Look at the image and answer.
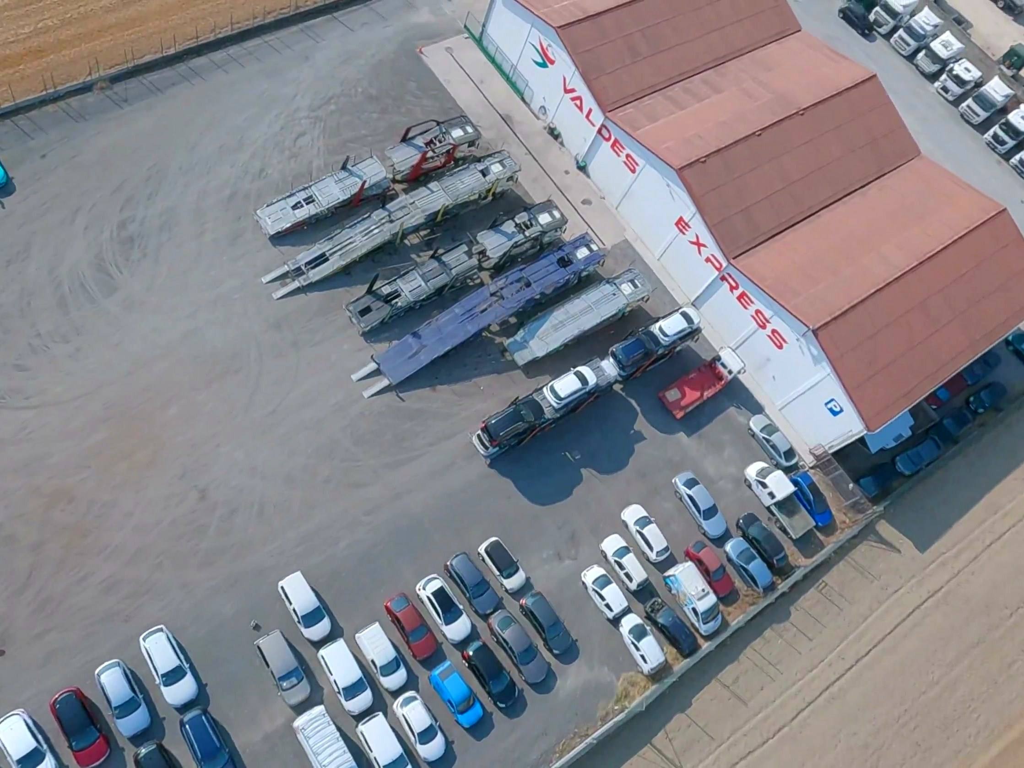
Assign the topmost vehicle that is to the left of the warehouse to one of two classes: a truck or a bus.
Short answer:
truck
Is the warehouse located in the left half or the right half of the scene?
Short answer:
right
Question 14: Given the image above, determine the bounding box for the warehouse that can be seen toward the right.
[477,0,1024,462]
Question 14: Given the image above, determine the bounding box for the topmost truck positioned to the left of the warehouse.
[378,113,484,187]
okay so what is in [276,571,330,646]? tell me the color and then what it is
white van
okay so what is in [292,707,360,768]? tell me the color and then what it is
white van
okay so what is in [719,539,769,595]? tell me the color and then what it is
blue car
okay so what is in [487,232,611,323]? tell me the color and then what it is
blue truck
